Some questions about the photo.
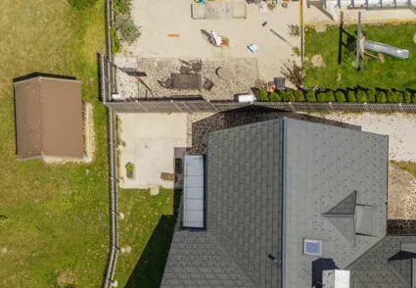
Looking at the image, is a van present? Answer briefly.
No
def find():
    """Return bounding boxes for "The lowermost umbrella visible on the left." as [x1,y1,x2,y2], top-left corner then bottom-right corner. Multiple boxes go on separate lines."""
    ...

[120,68,152,96]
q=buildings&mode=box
[161,119,416,288]
[11,76,98,170]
